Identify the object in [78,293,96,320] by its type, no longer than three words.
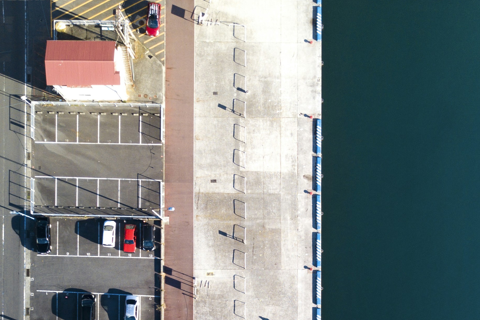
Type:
car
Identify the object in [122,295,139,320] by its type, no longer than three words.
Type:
car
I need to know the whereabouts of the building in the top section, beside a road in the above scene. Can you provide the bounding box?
[45,41,133,101]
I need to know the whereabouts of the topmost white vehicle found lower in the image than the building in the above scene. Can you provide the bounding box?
[100,219,115,247]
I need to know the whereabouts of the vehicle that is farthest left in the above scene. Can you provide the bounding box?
[33,216,50,253]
